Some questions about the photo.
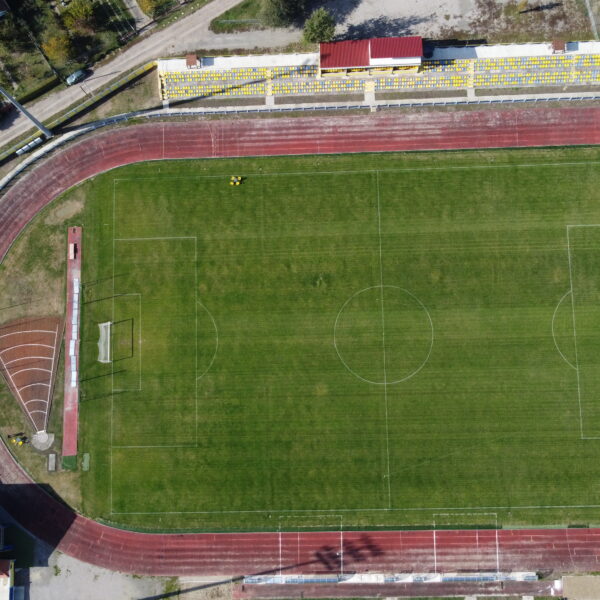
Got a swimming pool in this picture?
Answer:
No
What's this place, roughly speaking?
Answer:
sports ground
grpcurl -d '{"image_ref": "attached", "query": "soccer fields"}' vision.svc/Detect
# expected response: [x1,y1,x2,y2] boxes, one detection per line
[104,158,600,519]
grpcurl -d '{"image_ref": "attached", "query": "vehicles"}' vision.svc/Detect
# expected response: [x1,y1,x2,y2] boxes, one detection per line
[65,66,87,84]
